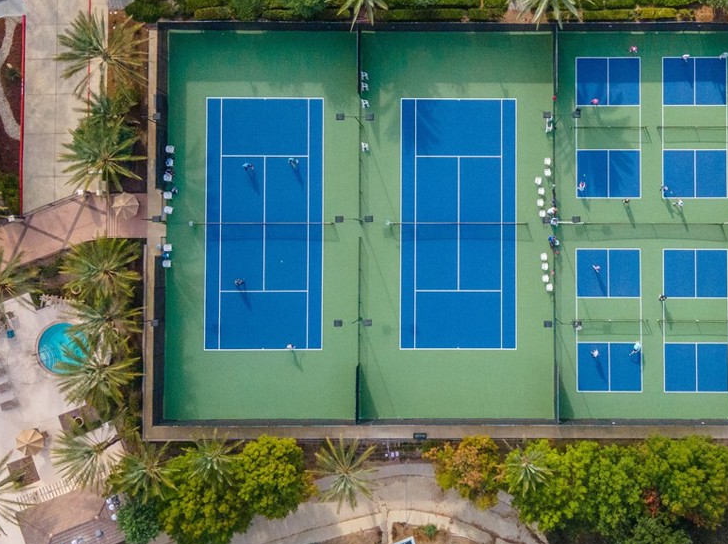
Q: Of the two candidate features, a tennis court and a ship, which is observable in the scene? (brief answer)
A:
tennis court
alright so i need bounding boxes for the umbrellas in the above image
[113,192,140,219]
[17,427,47,455]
